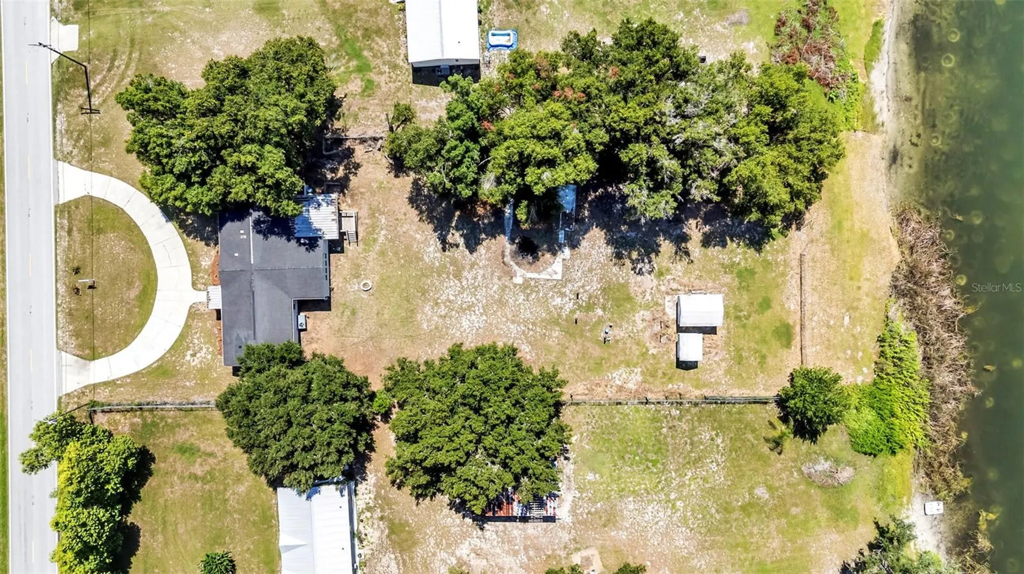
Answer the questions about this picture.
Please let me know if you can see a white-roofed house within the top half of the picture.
Yes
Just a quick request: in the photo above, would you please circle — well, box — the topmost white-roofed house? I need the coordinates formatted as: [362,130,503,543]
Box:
[408,0,479,68]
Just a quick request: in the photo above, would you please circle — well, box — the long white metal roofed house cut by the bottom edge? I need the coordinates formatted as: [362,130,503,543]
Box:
[278,476,356,574]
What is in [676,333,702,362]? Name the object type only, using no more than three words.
shed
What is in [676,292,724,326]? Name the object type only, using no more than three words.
shed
